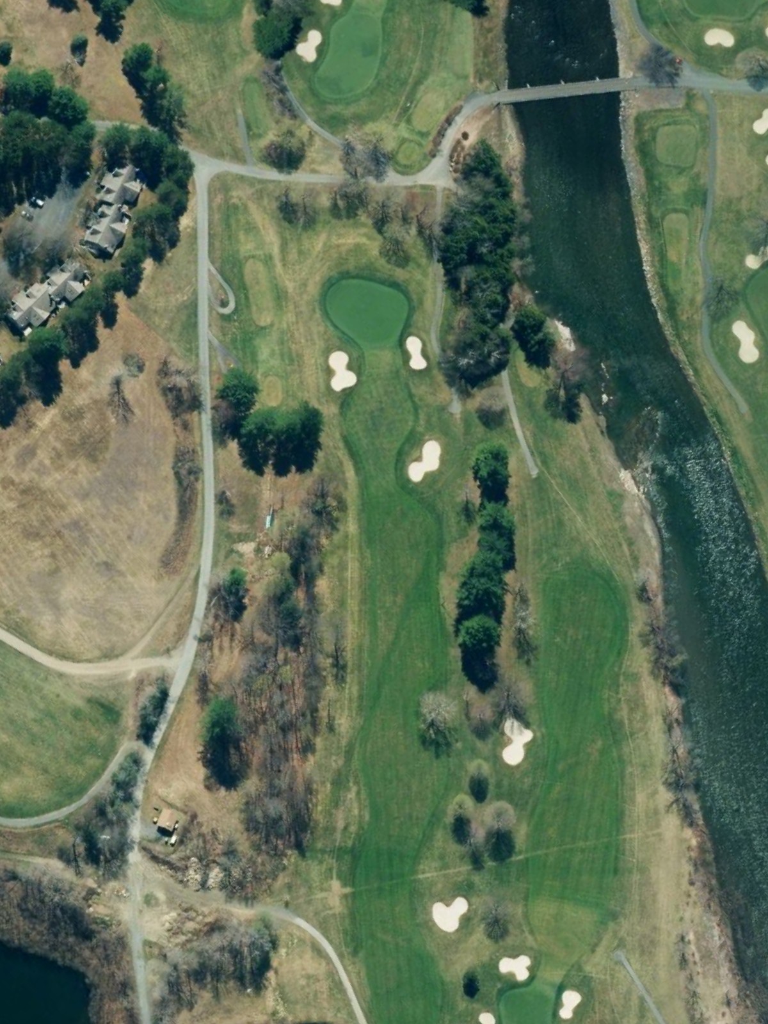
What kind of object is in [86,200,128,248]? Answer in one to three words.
house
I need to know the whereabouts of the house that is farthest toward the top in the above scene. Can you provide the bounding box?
[97,158,142,207]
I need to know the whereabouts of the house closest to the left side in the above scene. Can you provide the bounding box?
[6,277,57,329]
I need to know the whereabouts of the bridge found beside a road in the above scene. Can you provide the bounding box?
[490,70,639,111]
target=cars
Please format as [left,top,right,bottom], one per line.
[30,196,44,207]
[19,209,33,221]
